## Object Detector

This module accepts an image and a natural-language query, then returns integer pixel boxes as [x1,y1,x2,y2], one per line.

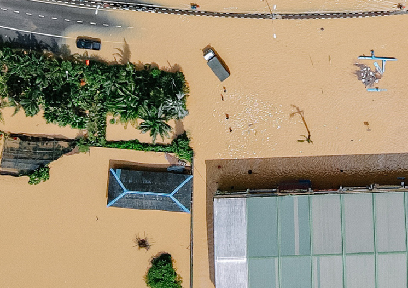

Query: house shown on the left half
[106,167,193,213]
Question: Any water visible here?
Yes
